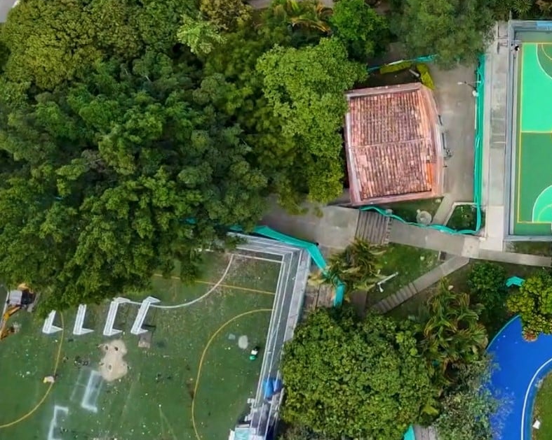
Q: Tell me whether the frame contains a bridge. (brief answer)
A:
No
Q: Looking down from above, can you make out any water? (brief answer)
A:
No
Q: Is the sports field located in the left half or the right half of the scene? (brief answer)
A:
left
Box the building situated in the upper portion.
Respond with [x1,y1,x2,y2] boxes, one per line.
[345,82,448,206]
